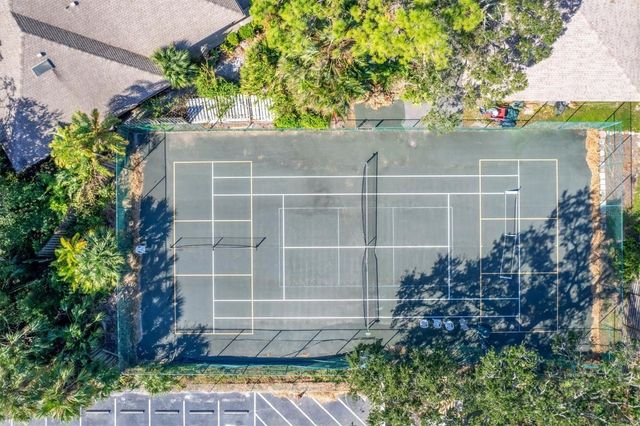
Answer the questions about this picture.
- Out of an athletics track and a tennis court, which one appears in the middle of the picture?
tennis court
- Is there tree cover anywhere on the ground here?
Yes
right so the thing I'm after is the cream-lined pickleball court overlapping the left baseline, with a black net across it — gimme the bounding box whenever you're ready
[174,161,254,335]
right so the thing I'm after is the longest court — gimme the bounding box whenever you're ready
[132,130,600,363]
